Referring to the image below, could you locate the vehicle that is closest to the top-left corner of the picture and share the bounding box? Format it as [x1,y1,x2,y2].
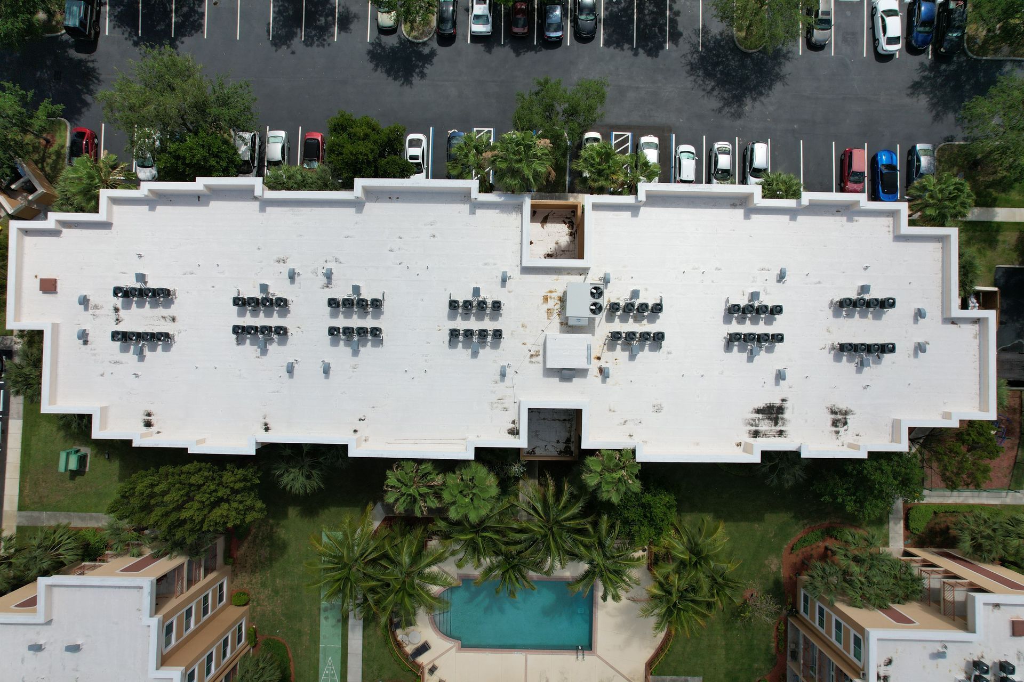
[66,0,100,45]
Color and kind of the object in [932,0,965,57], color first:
black car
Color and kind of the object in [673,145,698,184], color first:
white car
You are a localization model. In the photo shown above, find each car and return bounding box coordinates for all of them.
[872,149,904,202]
[709,142,735,185]
[374,0,400,32]
[635,136,661,180]
[673,145,698,184]
[908,144,935,186]
[807,0,835,47]
[235,131,261,177]
[68,127,100,167]
[580,132,602,149]
[540,0,566,42]
[264,131,292,173]
[745,142,770,189]
[471,0,493,38]
[572,0,598,39]
[908,0,938,51]
[436,0,459,38]
[840,149,868,193]
[66,0,100,45]
[303,132,327,169]
[932,0,965,57]
[869,0,900,57]
[404,133,429,179]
